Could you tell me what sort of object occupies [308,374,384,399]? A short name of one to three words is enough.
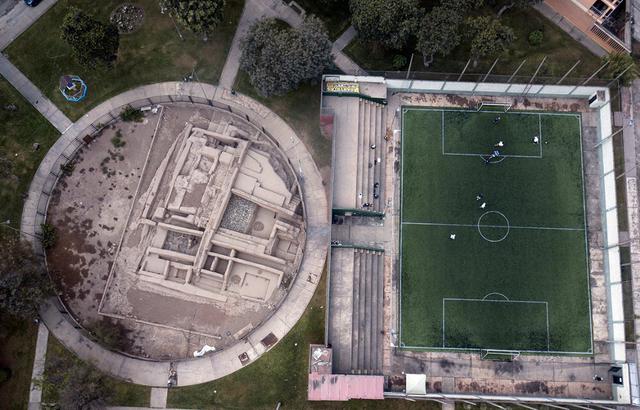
shed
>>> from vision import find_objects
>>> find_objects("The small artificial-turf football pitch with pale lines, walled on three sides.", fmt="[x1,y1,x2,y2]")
[398,106,594,359]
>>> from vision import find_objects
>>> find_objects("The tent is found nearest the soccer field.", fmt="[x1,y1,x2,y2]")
[404,373,426,394]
